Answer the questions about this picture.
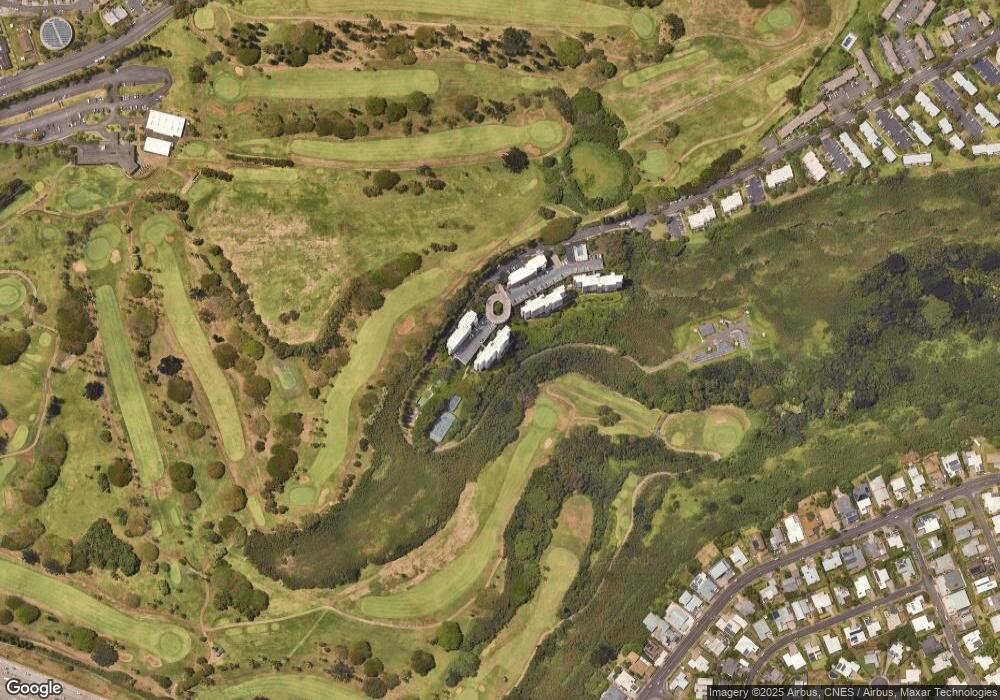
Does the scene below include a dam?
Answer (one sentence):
No, the picture doesn't show any dam.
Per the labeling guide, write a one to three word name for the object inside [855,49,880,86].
building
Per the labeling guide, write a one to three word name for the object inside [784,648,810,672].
house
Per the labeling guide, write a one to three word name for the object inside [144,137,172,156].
shed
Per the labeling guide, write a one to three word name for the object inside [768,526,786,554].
house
